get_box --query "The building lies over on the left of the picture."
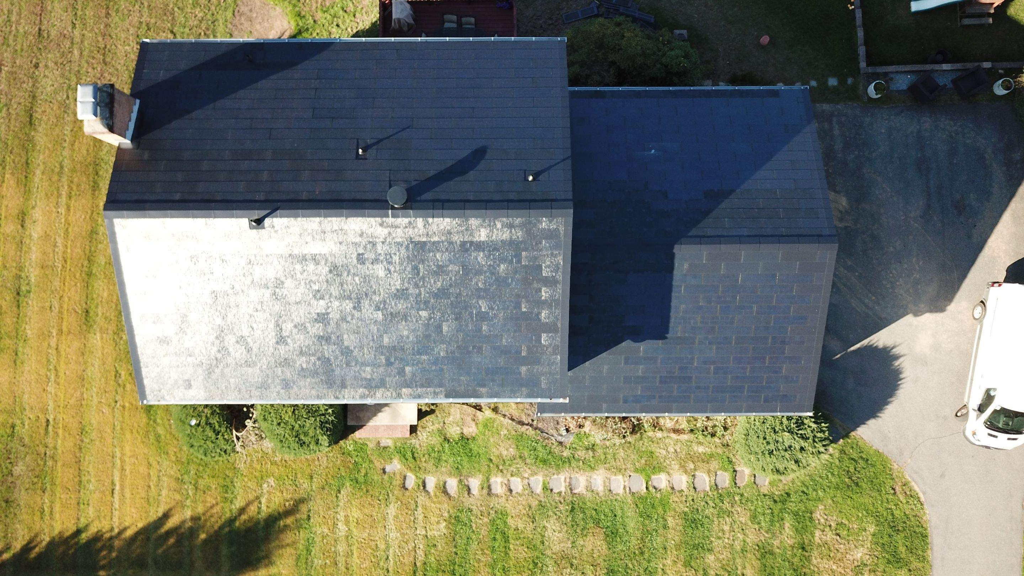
[77,36,573,405]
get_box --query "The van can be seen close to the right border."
[956,280,1024,447]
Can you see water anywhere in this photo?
No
